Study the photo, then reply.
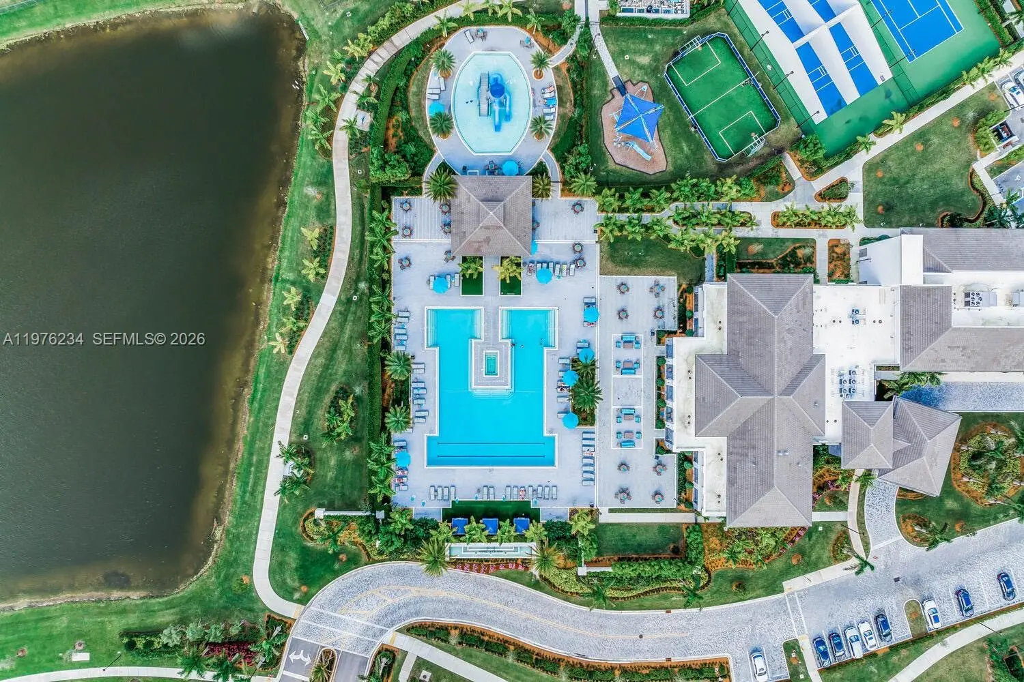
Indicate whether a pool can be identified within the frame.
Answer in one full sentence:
Yes, there is a pool in the image.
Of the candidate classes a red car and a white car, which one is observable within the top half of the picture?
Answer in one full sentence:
The feature located within the top half of the picture is a white car.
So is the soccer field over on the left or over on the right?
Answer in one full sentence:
The soccer field appears in the right half of the scene.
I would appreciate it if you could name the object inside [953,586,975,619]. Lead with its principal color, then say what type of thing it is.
blue car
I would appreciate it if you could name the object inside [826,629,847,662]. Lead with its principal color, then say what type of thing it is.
blue car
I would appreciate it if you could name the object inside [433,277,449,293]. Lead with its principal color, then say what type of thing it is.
blue umbrella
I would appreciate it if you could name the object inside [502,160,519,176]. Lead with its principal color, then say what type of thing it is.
blue umbrella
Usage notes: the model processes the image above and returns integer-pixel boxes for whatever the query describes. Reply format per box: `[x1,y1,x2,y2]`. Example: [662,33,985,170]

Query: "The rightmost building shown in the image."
[863,228,1024,374]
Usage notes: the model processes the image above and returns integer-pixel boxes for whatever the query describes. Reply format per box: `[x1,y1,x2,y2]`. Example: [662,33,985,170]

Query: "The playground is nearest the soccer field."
[600,75,667,175]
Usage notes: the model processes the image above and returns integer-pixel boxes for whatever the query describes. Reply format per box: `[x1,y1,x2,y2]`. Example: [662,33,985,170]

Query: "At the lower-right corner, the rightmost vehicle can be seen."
[995,570,1017,603]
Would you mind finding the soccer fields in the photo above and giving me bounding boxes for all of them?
[664,27,785,161]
